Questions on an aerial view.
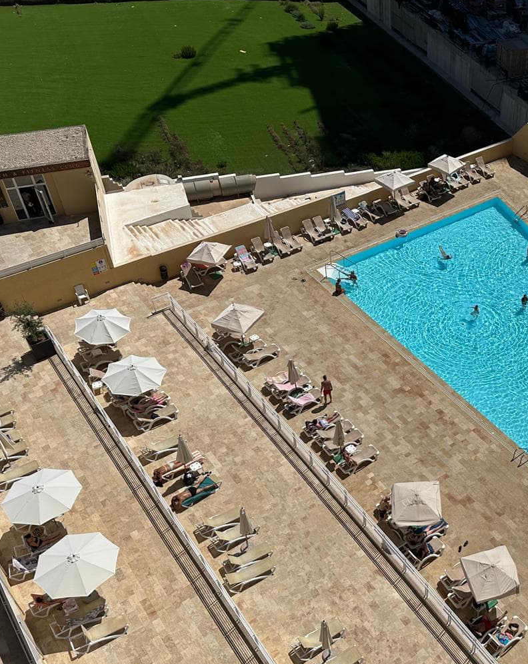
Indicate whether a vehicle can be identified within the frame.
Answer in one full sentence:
No, the picture doesn't show any vehicle.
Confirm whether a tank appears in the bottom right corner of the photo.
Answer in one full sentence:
No, in the bottom right corner of the photo there is no tank.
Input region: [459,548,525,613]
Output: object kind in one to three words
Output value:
umbrella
